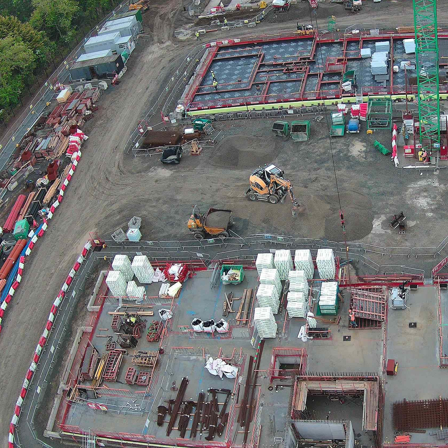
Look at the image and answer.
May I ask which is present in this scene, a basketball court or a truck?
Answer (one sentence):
The image shows a truck.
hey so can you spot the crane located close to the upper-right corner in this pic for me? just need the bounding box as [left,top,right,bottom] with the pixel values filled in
[412,0,440,152]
